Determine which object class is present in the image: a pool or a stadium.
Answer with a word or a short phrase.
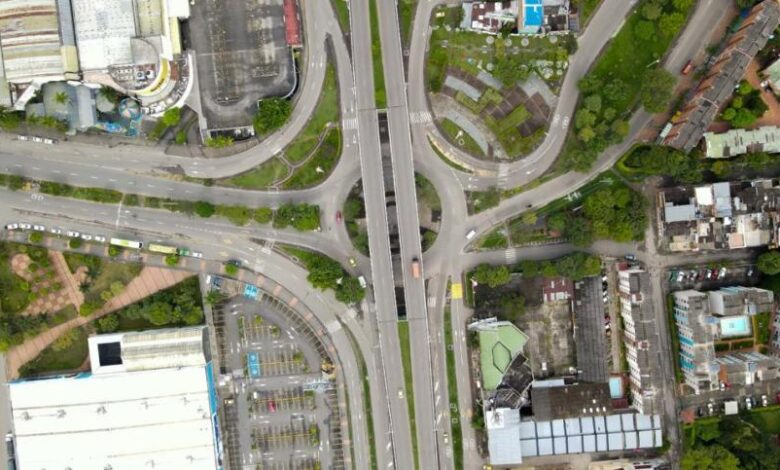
pool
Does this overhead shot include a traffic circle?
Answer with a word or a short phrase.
Yes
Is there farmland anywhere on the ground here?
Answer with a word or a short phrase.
No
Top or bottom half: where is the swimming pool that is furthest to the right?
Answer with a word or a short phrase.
bottom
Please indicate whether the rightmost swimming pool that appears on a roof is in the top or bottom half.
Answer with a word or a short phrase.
bottom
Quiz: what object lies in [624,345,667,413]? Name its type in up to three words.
building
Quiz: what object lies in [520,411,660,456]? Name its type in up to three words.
shed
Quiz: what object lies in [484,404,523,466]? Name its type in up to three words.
building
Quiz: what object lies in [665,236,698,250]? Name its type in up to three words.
house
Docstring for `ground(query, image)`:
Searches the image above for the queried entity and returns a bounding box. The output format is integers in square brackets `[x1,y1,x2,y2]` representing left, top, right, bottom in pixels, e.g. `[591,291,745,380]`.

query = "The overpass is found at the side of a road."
[350,0,440,470]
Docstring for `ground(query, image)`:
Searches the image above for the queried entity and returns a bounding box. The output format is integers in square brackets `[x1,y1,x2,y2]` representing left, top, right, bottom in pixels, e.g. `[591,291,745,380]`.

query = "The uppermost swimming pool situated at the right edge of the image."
[719,315,752,337]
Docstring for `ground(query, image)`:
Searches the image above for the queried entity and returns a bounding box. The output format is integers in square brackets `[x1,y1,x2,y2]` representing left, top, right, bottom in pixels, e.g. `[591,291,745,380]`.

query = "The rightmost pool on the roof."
[609,373,631,399]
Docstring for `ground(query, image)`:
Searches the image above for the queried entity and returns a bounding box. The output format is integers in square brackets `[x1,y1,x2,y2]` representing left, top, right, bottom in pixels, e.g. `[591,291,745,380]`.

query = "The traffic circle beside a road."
[330,146,471,285]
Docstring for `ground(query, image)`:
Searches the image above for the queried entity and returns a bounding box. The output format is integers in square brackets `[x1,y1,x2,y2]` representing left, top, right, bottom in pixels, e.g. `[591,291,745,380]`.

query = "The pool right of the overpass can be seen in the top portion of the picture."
[516,0,544,36]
